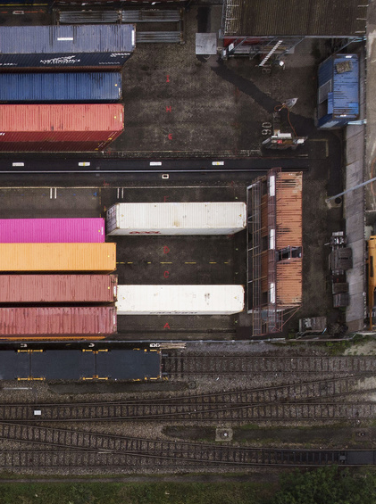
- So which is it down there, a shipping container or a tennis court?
shipping container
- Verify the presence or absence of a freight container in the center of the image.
Yes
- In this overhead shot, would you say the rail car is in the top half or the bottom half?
bottom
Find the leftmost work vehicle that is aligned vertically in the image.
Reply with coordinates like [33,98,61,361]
[325,223,368,311]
